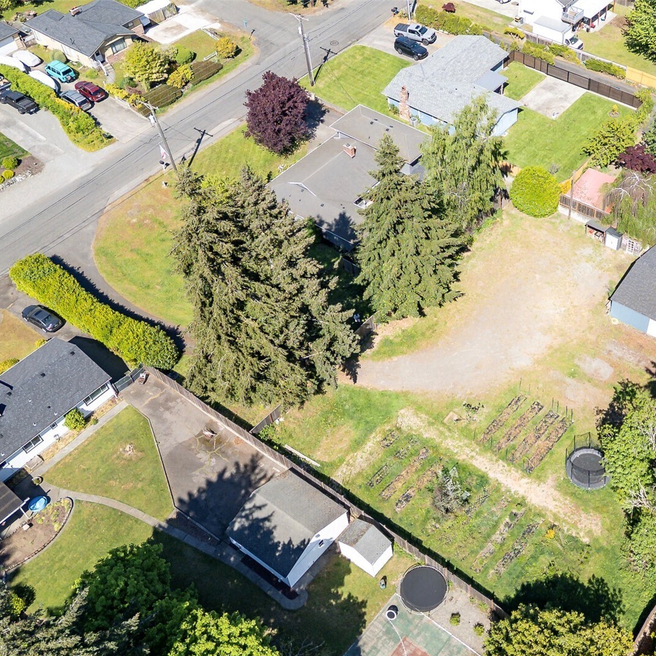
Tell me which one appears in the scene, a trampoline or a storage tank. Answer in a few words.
trampoline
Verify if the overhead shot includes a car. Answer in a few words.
Yes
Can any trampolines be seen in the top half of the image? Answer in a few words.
No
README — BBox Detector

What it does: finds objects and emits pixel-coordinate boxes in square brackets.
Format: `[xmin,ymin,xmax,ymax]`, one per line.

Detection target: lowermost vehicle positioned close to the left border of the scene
[15,301,66,335]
